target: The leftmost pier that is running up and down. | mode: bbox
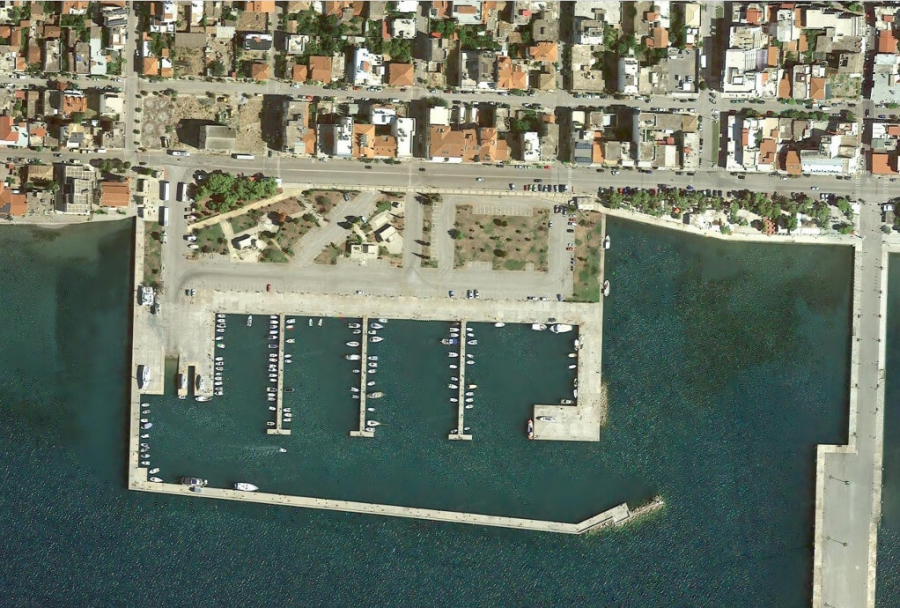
[266,315,291,435]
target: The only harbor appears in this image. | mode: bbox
[127,285,610,489]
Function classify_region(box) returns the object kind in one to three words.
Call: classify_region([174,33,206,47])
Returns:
shed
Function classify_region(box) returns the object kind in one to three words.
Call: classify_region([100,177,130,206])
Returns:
house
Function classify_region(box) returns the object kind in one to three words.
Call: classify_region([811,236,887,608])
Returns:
pier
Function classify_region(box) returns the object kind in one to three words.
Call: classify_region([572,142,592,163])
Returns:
building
